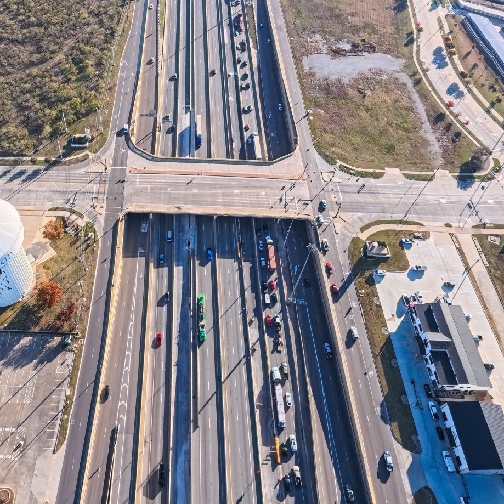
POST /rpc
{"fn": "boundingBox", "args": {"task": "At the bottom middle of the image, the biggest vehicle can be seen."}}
[272,370,287,424]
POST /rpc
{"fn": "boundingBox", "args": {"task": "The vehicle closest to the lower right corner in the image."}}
[443,454,456,470]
